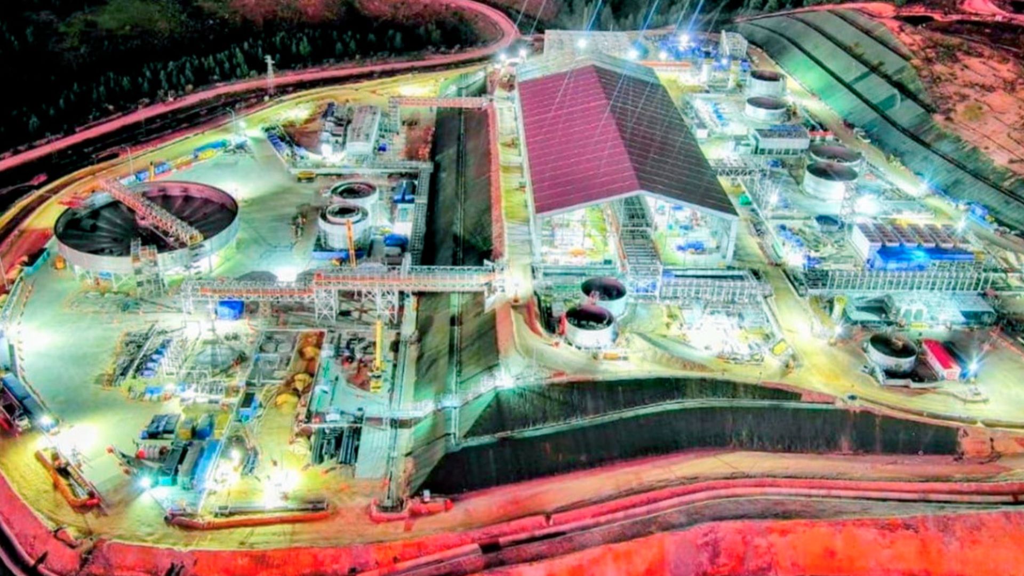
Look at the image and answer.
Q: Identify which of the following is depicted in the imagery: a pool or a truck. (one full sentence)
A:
I can see a truck in this picture.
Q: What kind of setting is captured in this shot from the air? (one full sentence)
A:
What you see here is an industrial area.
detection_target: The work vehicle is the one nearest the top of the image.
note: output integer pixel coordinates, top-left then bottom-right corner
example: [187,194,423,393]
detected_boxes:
[490,73,515,86]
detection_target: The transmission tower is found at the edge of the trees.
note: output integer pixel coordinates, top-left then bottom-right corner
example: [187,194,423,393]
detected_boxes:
[255,51,274,101]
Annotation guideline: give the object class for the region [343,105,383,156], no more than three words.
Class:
shed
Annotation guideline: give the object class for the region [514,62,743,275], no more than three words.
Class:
building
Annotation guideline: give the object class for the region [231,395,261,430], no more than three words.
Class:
truck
